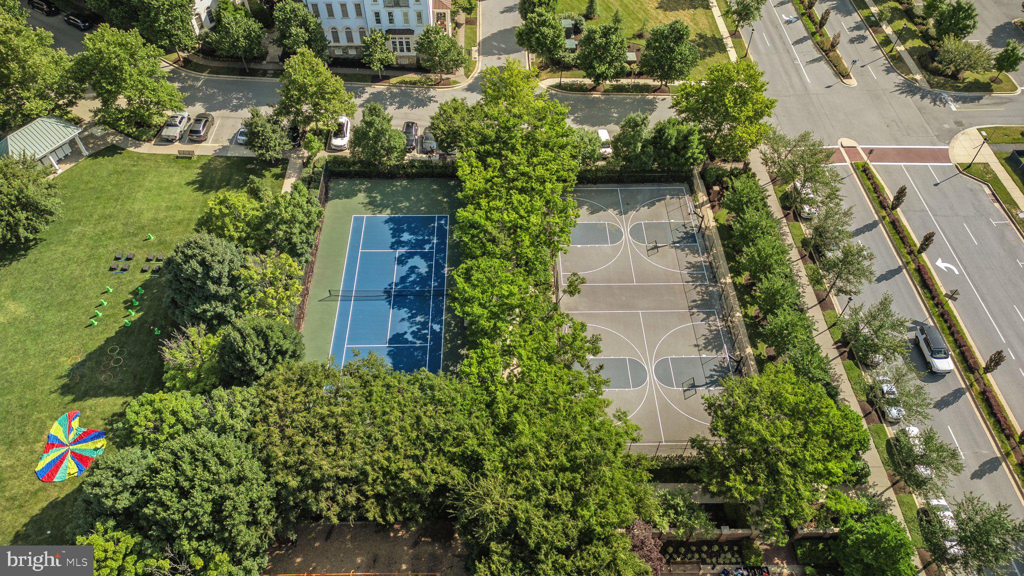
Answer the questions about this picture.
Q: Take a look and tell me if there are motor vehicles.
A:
Yes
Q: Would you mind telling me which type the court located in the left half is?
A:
tennis court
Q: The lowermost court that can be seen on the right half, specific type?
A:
basketball court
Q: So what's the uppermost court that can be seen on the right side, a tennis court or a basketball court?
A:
basketball court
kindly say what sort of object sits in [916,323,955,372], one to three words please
car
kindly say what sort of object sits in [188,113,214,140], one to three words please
car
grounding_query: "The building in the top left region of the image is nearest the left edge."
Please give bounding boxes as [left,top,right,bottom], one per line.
[0,111,86,184]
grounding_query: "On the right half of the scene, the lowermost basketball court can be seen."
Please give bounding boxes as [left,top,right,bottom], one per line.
[559,296,747,451]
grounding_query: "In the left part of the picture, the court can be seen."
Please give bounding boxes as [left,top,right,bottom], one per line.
[280,178,477,451]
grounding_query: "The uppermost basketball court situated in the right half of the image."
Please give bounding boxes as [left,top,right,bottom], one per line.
[549,180,721,298]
